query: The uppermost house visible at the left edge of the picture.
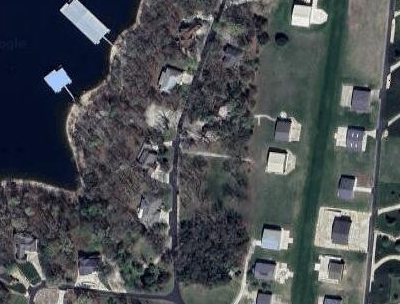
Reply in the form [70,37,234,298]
[15,235,37,260]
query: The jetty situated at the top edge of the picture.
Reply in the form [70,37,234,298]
[62,0,114,48]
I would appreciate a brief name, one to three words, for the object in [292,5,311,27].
hangar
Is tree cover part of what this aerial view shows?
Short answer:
Yes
